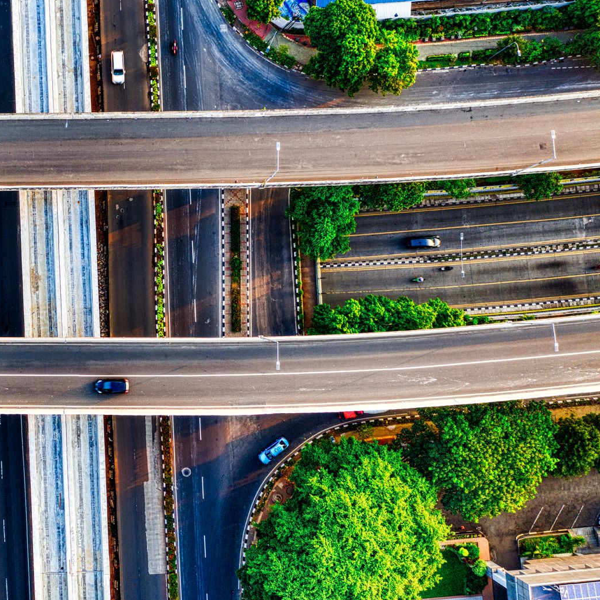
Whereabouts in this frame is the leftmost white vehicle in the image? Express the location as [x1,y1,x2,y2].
[111,49,126,84]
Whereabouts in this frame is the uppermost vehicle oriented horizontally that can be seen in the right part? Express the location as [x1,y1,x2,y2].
[406,234,441,249]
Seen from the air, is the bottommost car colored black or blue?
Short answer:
blue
